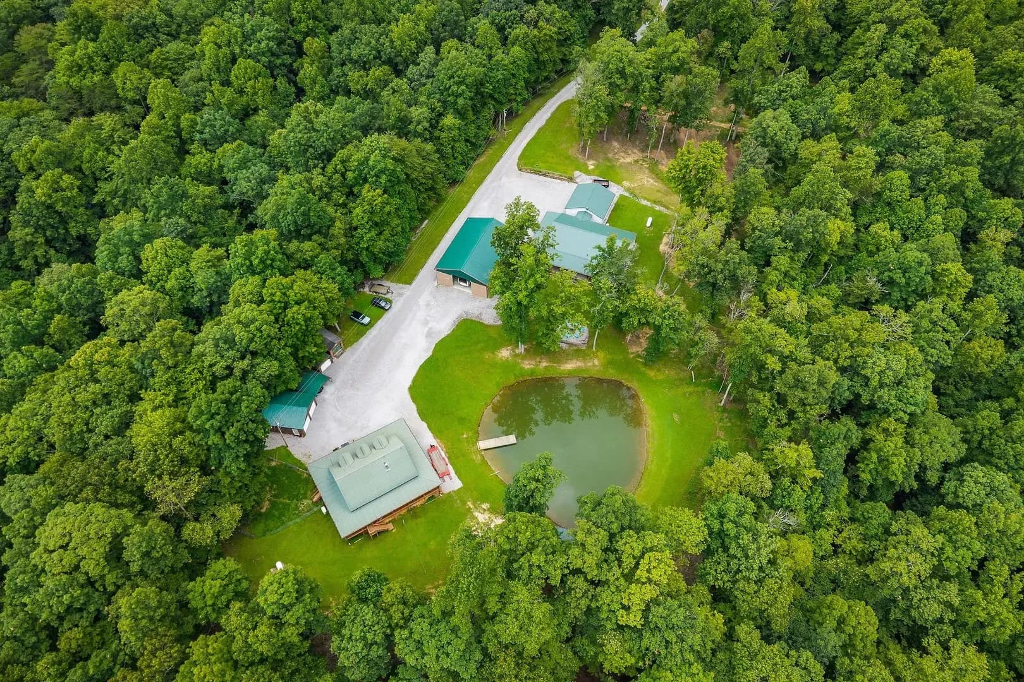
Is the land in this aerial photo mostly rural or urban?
rural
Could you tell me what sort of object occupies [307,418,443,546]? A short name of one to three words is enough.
house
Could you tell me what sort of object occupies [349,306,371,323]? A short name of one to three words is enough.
car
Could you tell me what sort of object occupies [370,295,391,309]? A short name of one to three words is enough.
car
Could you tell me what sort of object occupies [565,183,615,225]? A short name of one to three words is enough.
shed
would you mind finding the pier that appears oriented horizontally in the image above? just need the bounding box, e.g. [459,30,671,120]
[478,435,516,451]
